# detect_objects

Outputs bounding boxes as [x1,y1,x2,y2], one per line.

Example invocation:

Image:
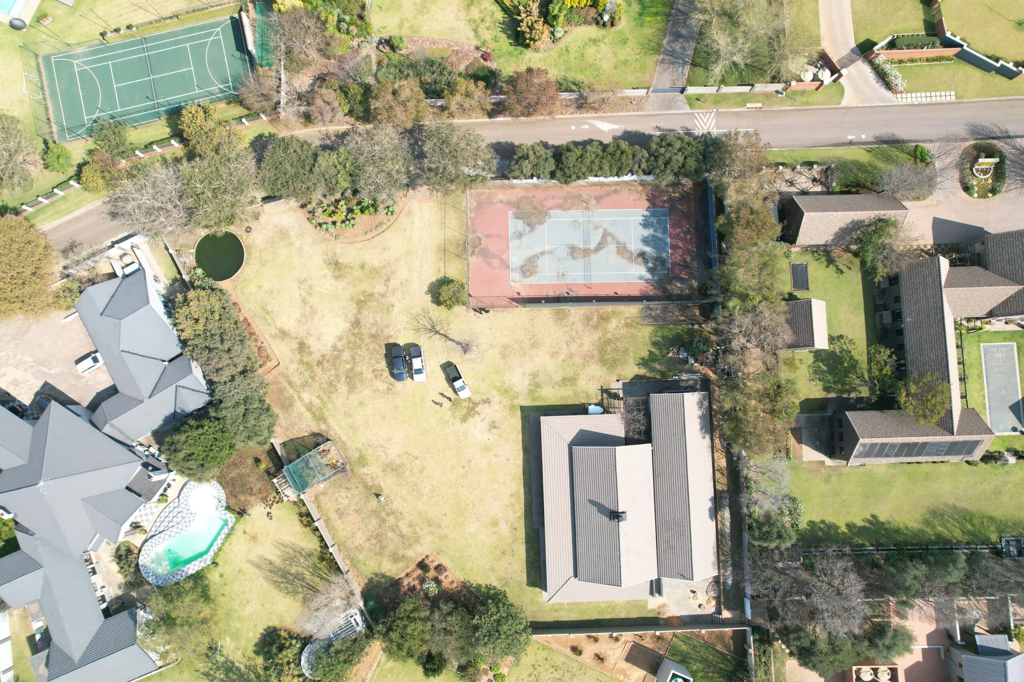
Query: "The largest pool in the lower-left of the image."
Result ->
[135,479,228,577]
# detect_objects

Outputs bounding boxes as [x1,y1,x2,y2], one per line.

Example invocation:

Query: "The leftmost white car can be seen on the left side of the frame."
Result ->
[76,353,101,373]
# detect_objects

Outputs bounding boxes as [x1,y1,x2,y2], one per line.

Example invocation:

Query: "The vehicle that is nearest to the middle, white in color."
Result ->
[446,362,472,400]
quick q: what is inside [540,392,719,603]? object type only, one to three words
house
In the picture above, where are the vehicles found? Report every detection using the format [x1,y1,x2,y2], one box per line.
[76,353,101,373]
[391,345,409,383]
[410,345,428,383]
[32,396,49,410]
[446,362,472,400]
[9,402,34,420]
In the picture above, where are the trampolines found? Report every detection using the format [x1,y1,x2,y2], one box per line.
[788,261,811,292]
